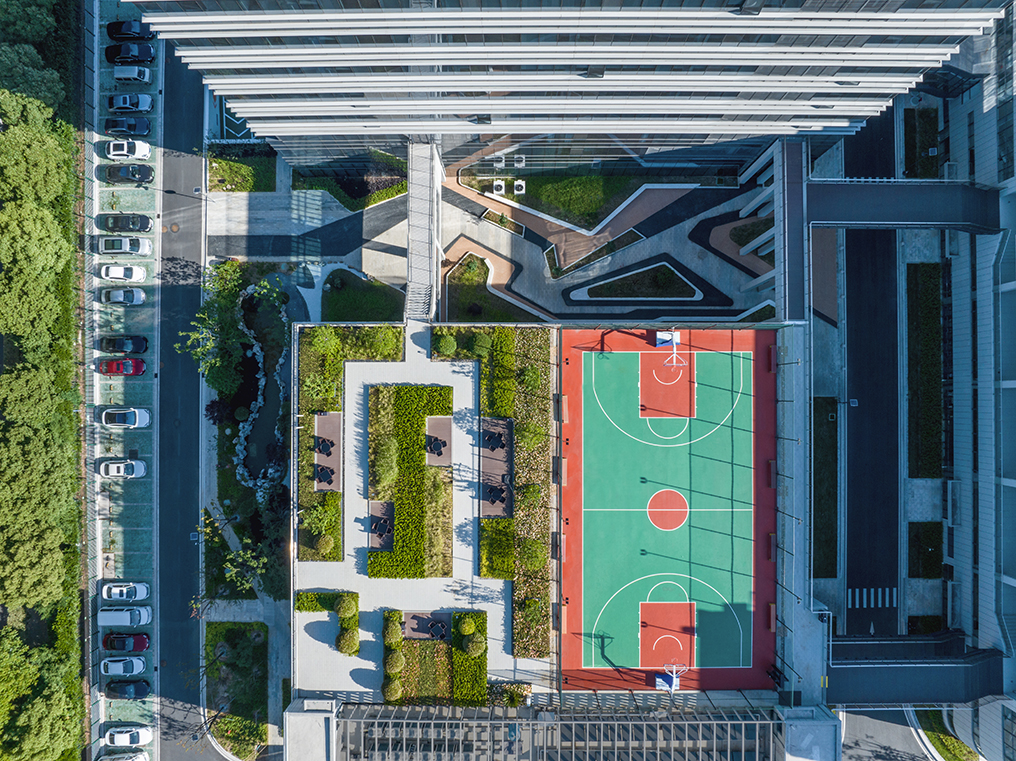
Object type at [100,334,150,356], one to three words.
car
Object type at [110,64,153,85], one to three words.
vehicle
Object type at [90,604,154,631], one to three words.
vehicle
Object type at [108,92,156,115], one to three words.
car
